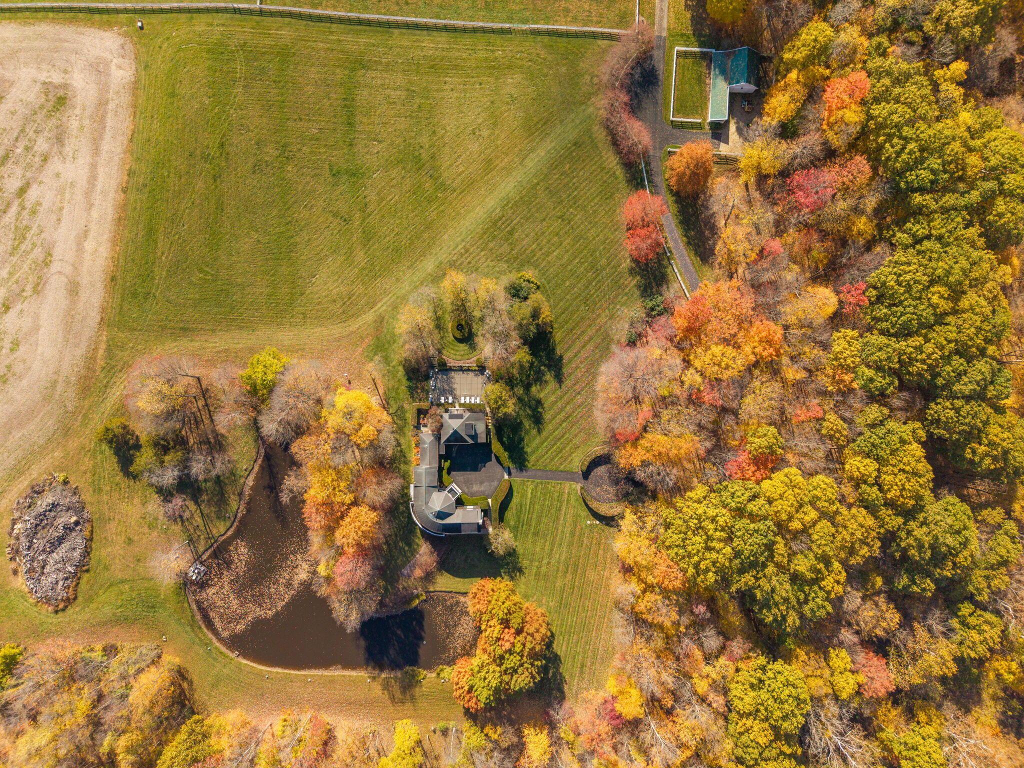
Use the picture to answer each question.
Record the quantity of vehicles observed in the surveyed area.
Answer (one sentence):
The picture shows no vehicles.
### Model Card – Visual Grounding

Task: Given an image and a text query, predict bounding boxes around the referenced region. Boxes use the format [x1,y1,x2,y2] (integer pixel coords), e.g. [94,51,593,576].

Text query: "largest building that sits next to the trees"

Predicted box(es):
[410,433,488,536]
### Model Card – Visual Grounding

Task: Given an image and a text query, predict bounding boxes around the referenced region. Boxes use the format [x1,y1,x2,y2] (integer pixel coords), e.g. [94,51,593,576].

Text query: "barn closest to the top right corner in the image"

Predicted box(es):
[708,46,760,123]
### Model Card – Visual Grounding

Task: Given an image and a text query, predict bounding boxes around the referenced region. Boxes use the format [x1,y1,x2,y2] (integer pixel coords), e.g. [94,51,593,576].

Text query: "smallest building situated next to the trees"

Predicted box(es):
[441,409,486,444]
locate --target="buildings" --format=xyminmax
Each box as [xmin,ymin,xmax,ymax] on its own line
[708,46,760,123]
[410,433,488,536]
